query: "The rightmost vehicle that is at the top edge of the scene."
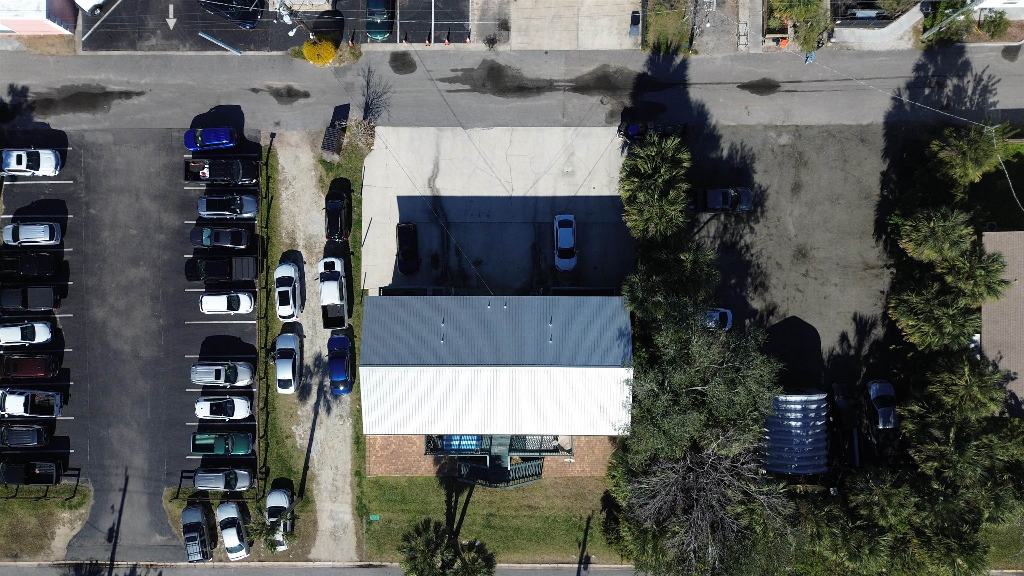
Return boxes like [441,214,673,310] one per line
[364,0,392,43]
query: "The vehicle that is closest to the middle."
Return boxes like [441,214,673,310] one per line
[552,214,580,272]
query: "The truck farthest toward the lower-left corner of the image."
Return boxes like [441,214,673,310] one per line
[0,459,66,489]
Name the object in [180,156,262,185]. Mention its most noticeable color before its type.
black truck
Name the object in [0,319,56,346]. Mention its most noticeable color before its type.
white car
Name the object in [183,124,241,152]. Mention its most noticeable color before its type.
blue car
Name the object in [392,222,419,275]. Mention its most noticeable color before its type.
black car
